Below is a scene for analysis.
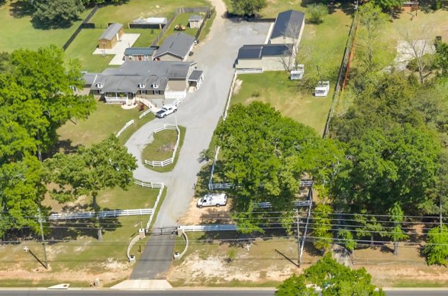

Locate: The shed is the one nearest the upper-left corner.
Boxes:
[97,23,123,49]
